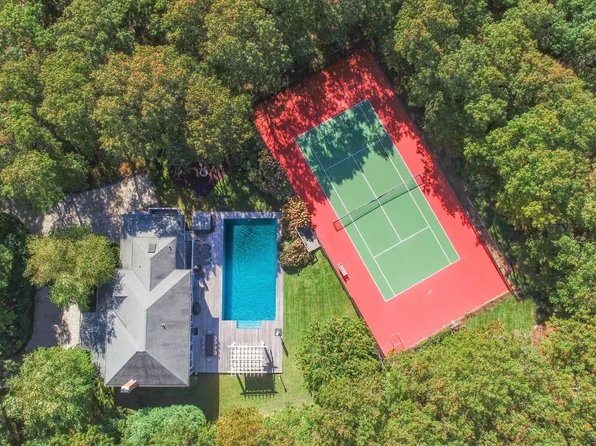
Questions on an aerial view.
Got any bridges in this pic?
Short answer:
No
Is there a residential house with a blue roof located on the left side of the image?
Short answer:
No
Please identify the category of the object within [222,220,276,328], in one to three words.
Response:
swimming pool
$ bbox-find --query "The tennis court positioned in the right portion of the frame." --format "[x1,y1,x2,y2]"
[249,44,509,360]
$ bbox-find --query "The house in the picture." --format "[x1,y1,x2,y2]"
[81,206,198,392]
